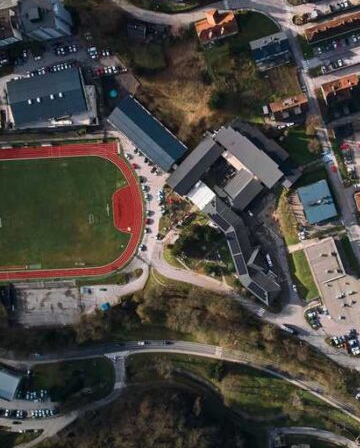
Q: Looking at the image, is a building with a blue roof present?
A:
Yes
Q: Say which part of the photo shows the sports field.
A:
left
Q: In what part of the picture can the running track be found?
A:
left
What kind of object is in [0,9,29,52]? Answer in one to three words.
building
